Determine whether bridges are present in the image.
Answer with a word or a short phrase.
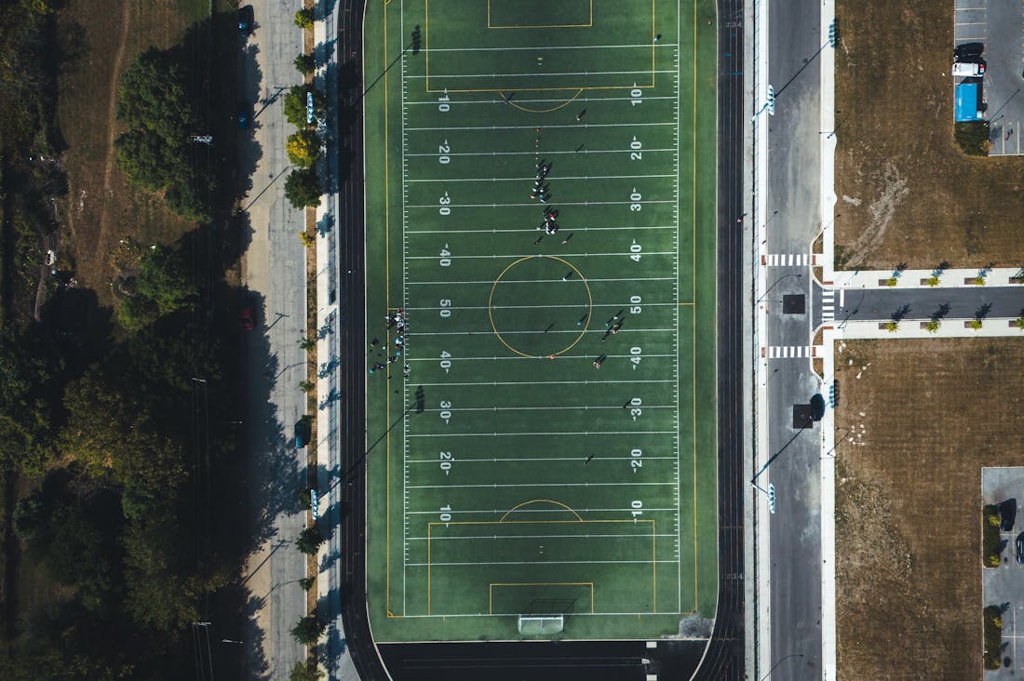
No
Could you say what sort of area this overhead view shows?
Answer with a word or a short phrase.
sports ground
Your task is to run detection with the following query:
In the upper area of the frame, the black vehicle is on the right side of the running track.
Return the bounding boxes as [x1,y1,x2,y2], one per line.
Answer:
[955,47,983,60]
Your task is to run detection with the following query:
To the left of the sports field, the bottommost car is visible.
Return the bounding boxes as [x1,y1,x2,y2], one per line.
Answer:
[295,421,307,447]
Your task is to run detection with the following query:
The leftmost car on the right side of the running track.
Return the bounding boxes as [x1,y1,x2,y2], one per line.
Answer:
[810,397,823,423]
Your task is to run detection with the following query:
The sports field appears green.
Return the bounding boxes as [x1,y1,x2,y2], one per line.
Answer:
[365,0,716,644]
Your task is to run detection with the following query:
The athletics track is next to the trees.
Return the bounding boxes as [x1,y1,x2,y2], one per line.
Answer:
[337,0,744,681]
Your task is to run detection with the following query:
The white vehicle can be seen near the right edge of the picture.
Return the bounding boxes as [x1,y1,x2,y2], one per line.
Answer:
[950,64,985,78]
